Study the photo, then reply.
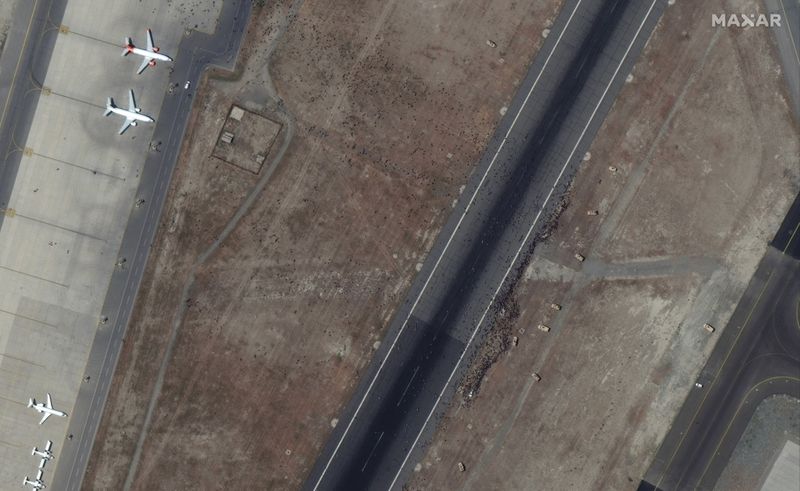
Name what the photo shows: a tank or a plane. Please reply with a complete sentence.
There is a plane in the scene.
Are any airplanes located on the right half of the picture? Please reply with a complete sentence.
No, there is no airplane on the right half of the picture.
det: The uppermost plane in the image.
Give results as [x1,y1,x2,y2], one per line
[123,30,172,73]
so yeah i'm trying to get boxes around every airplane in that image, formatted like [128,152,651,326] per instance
[123,30,172,73]
[31,443,53,469]
[23,472,45,491]
[28,393,66,424]
[105,91,153,134]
